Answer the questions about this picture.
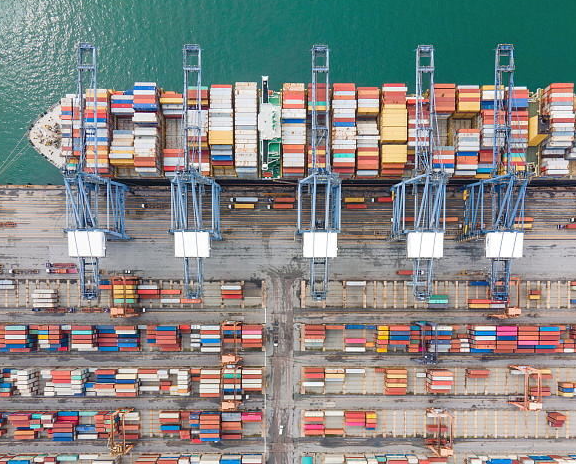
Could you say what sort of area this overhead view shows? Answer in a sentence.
It's a port.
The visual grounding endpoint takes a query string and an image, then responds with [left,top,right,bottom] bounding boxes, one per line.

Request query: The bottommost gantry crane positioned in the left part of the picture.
[109,409,137,458]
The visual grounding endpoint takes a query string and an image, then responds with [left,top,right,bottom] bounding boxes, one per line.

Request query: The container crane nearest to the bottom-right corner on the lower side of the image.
[507,366,543,413]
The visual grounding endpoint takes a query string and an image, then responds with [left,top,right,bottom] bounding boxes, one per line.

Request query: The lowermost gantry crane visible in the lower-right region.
[425,409,456,459]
